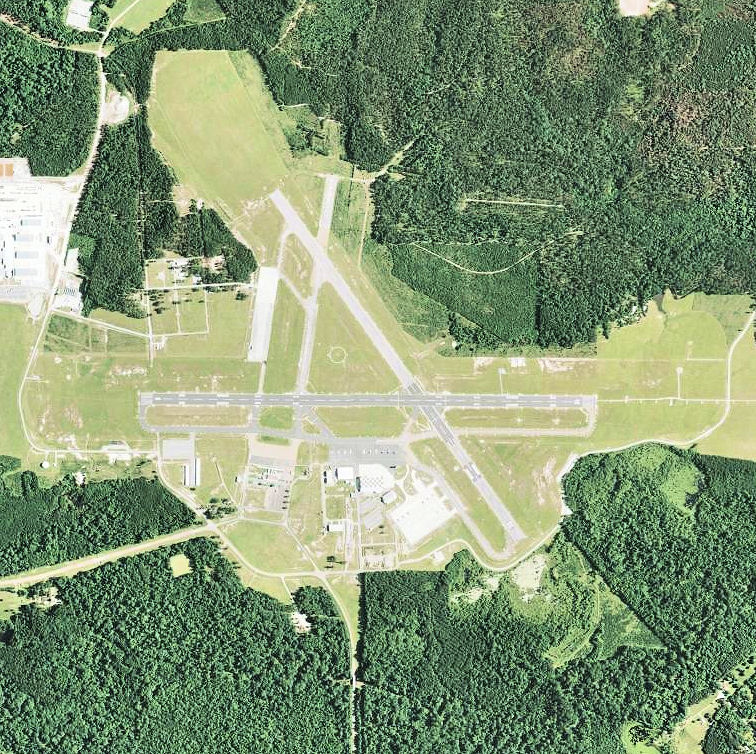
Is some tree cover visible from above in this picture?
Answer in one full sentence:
Yes, tree cover shows up in the scene.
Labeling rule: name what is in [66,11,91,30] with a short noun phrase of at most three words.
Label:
building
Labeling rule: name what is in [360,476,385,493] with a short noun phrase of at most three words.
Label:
hangar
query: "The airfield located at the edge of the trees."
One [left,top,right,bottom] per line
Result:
[44,176,692,559]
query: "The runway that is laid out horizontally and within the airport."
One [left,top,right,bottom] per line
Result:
[140,392,597,408]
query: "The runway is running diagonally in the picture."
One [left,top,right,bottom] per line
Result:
[269,190,524,542]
